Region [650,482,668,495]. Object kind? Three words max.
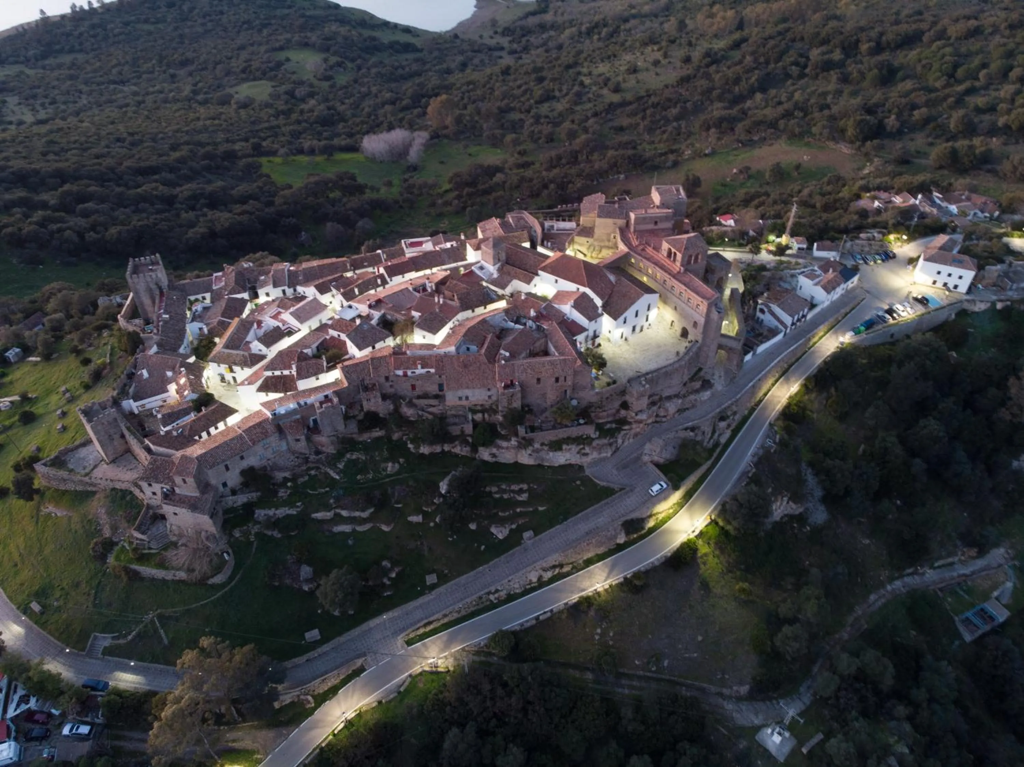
vehicle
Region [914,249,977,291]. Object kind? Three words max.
house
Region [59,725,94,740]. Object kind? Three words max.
car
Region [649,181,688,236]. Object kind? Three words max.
building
